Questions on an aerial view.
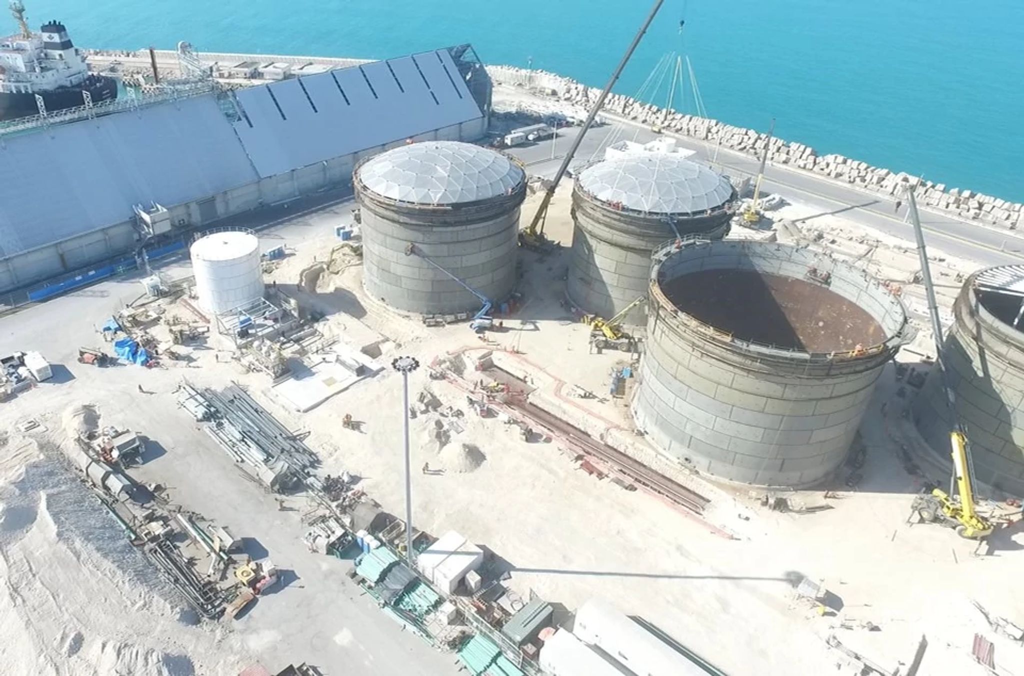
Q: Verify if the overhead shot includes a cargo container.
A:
Yes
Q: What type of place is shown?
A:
industrial area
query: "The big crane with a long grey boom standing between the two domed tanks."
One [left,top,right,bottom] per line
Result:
[520,0,683,261]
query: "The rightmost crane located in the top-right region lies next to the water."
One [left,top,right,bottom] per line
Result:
[735,118,776,230]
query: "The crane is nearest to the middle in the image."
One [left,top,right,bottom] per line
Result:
[585,297,646,363]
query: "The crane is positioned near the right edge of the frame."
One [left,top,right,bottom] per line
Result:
[896,179,1015,571]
